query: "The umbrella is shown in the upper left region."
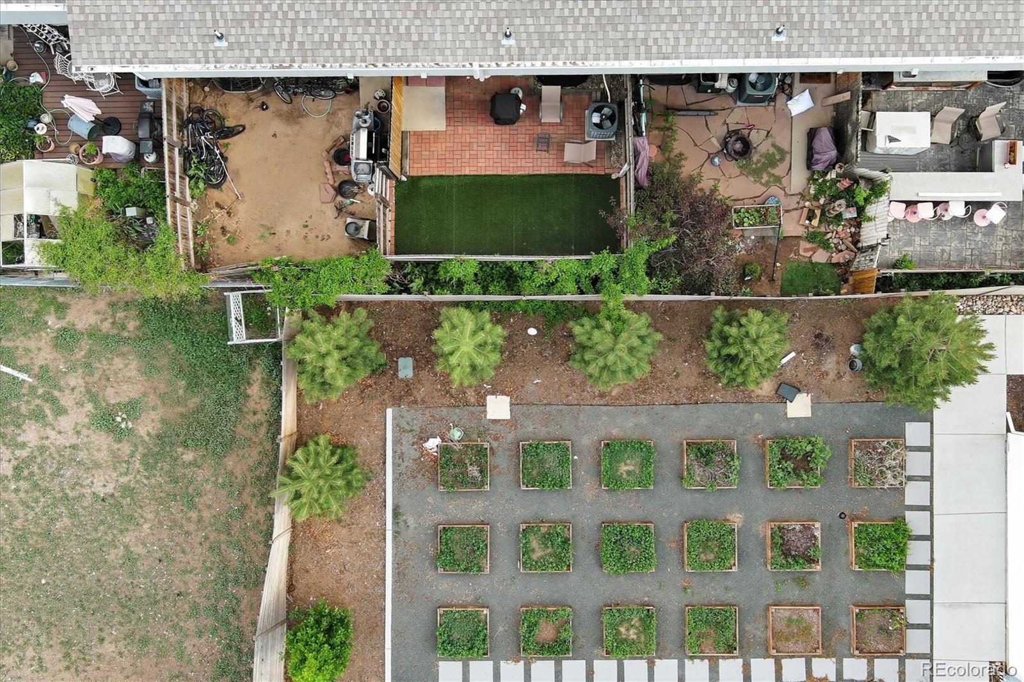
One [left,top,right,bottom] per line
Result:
[58,94,120,134]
